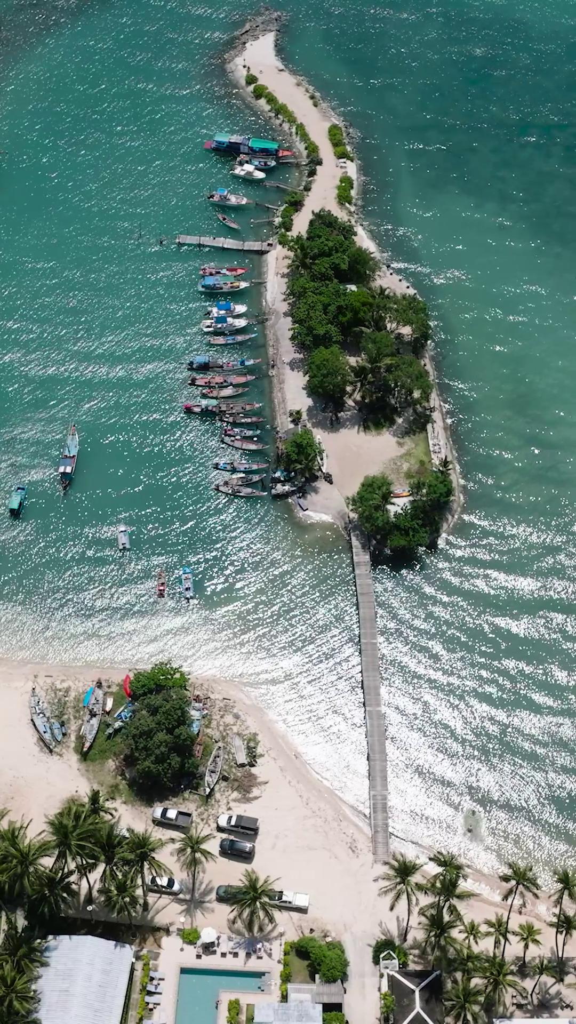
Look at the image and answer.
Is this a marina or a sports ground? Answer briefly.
marina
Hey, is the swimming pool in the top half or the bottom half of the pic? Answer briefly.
bottom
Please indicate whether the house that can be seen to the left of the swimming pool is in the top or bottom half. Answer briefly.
bottom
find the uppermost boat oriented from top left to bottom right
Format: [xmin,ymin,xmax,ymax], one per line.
[216,212,241,231]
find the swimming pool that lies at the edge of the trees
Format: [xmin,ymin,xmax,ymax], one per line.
[149,937,284,1024]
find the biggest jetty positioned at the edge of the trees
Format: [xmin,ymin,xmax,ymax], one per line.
[175,230,277,257]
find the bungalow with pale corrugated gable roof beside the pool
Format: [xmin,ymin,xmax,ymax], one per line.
[34,935,135,1024]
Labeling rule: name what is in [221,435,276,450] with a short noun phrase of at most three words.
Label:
boat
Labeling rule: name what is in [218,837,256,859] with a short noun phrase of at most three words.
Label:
car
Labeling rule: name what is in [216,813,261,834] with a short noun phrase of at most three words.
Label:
truck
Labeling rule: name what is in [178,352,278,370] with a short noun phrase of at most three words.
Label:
boat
